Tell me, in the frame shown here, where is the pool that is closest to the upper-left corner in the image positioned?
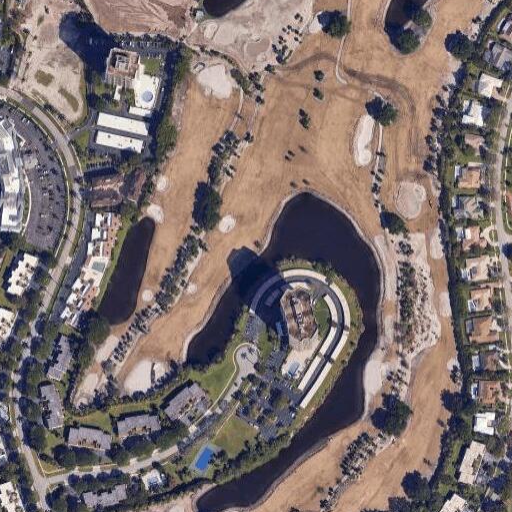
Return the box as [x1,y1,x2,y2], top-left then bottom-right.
[141,91,153,104]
